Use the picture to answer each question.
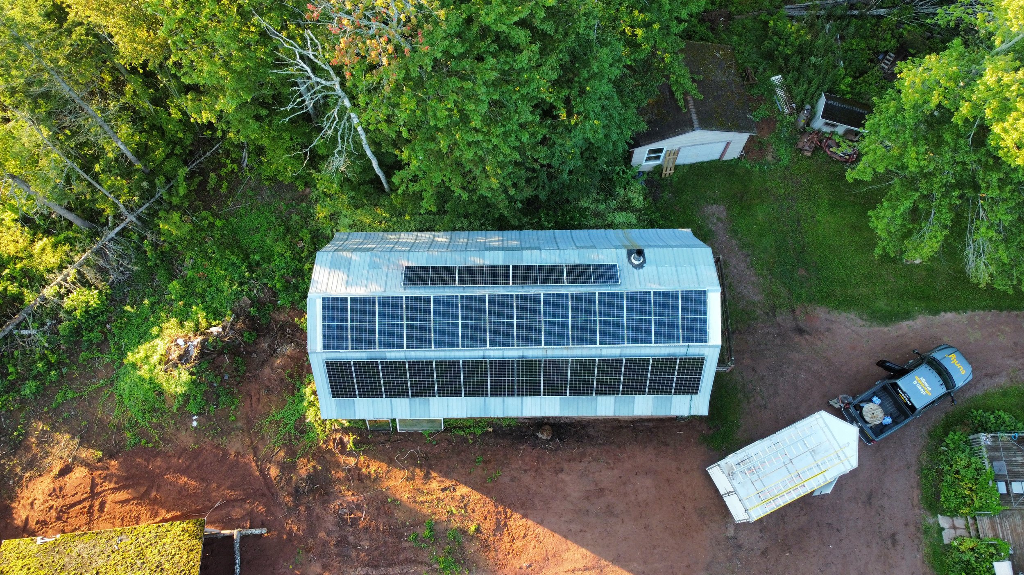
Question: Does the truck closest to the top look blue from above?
Yes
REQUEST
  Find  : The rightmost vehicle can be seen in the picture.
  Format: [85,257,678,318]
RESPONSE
[836,344,974,447]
